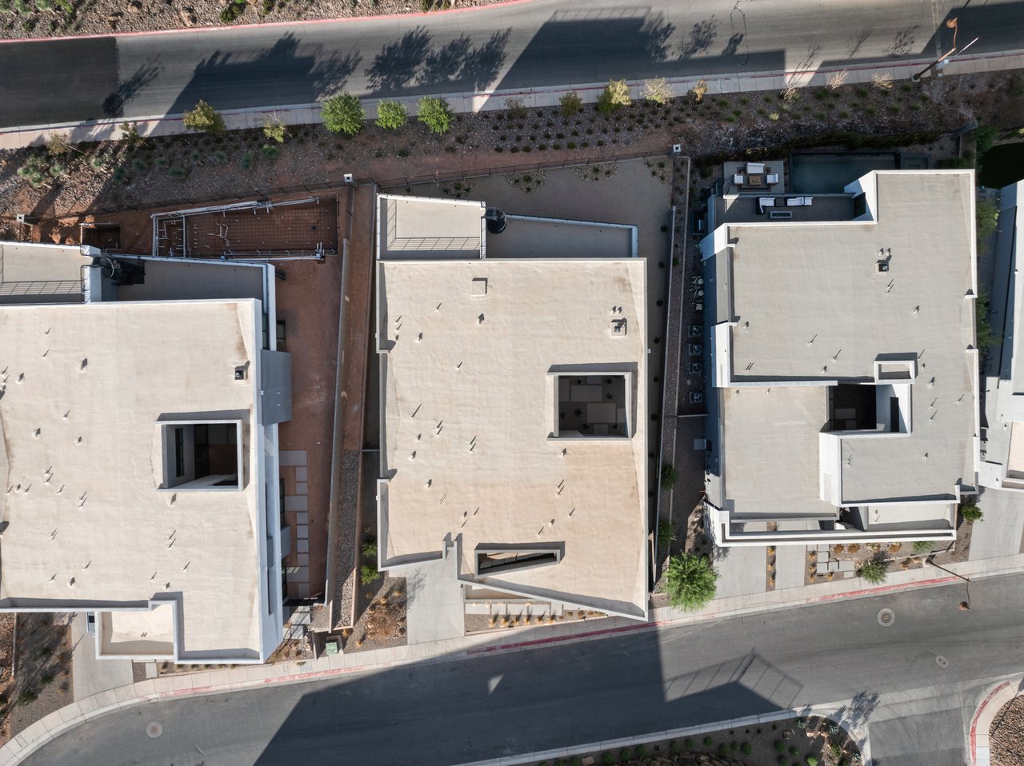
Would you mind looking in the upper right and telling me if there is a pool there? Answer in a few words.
Yes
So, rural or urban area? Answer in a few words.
urban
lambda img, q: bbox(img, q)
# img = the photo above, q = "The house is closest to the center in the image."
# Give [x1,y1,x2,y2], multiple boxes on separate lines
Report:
[375,193,650,646]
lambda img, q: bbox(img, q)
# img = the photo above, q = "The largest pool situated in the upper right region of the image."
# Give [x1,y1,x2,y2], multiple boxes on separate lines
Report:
[788,150,900,193]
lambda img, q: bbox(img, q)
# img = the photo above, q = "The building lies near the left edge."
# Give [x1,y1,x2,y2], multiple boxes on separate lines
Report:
[0,241,325,665]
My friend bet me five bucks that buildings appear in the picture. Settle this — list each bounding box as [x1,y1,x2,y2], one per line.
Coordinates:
[375,193,650,646]
[694,169,978,547]
[0,241,325,665]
